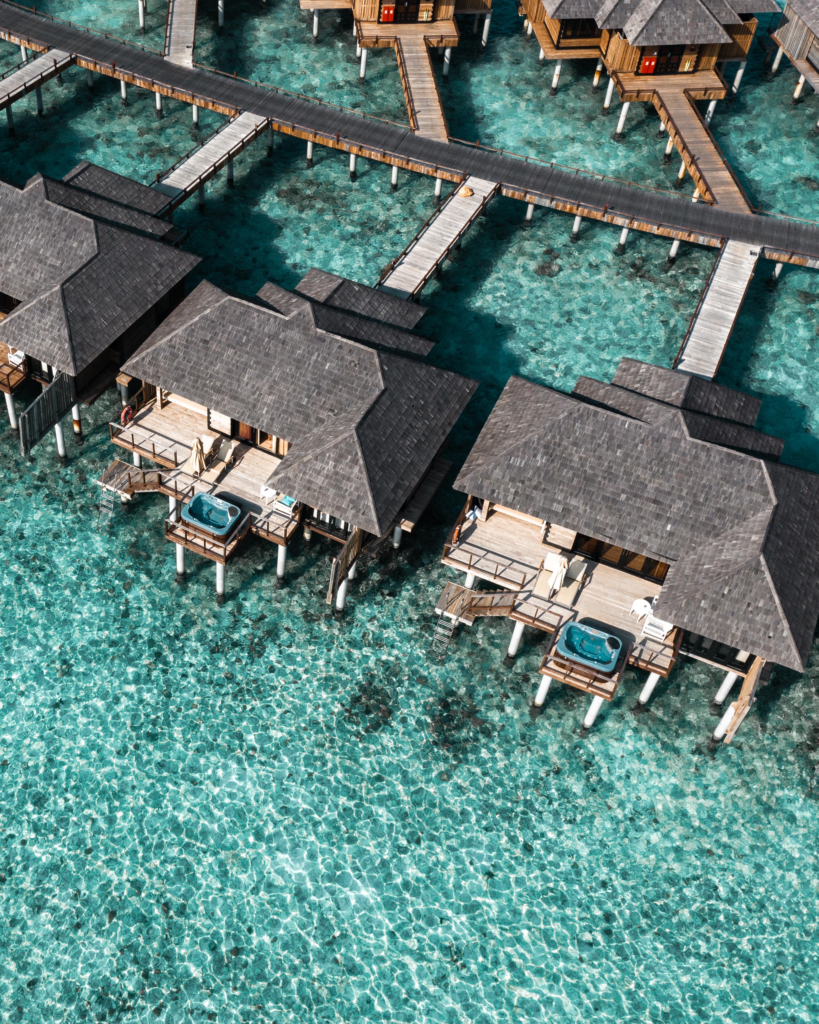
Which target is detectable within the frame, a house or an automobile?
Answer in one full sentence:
The one in the frame is a house.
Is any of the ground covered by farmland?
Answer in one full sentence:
No, there's no farmland in this view.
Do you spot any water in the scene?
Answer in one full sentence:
Yes, water shows up in the scene.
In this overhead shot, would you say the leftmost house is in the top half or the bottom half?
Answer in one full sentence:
The leftmost house sits in the top half of the picture.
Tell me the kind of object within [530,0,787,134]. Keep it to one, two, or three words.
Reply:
house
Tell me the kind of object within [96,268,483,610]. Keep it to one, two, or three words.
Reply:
house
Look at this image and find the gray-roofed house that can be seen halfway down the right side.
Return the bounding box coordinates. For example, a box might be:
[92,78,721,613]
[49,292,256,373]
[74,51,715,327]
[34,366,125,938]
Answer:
[423,357,819,740]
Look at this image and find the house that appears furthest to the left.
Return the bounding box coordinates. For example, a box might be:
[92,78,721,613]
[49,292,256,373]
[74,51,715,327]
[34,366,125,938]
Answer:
[0,157,205,457]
